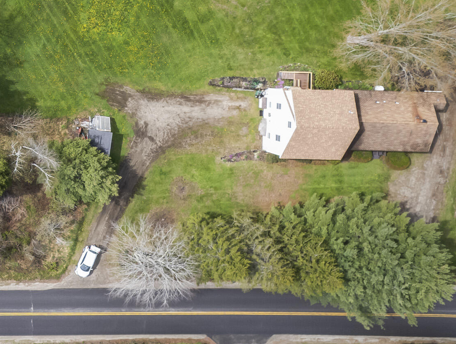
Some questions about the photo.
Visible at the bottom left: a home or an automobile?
automobile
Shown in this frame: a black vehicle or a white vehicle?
white vehicle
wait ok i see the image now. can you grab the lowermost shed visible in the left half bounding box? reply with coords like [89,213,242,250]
[83,128,114,158]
